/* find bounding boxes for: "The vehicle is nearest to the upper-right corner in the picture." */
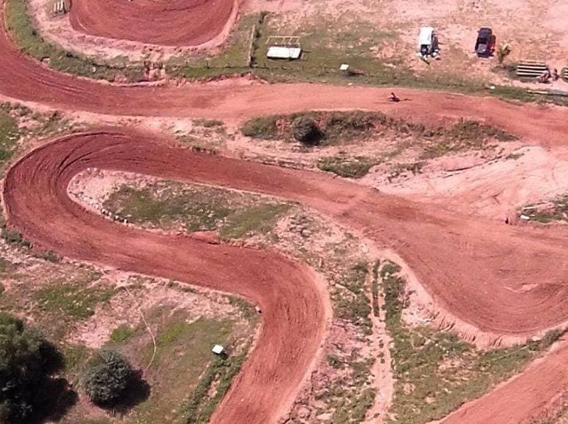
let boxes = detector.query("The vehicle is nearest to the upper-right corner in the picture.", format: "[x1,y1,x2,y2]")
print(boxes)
[476,32,492,57]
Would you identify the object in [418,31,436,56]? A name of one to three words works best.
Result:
vehicle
